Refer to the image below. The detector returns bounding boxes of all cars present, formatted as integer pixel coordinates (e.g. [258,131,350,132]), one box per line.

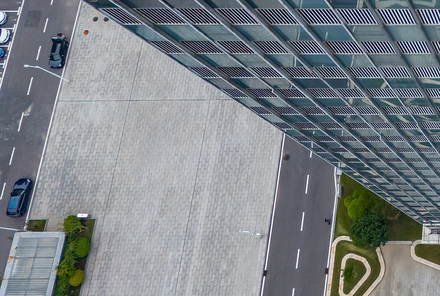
[47,29,71,71]
[0,28,13,43]
[0,12,10,25]
[6,179,34,219]
[0,47,8,61]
